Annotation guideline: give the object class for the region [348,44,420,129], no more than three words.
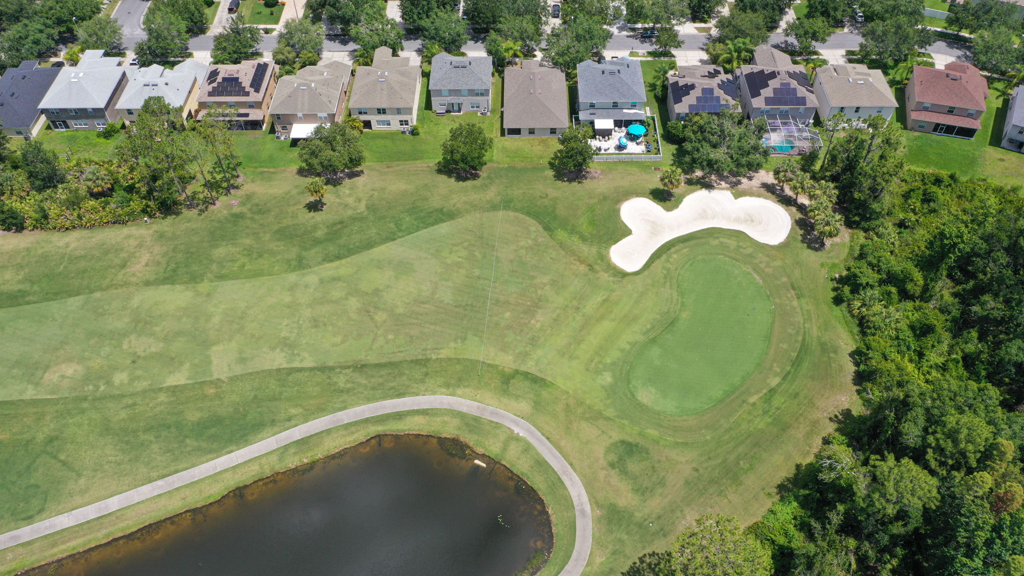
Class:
house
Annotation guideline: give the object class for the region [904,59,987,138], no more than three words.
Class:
house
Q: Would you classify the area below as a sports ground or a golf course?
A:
golf course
